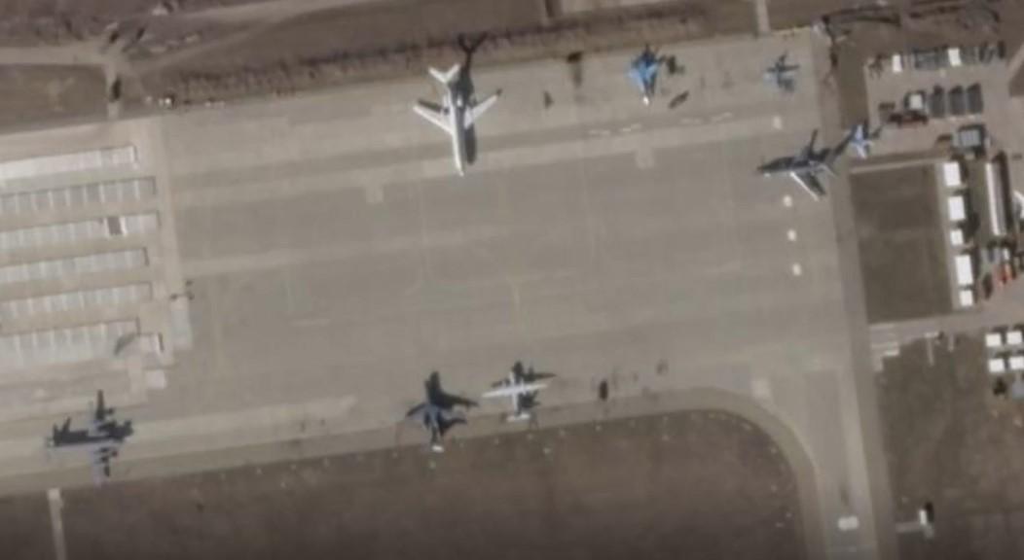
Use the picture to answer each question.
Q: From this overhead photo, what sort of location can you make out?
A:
airport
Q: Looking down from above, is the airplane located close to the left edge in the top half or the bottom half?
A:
bottom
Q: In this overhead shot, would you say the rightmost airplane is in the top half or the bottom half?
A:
top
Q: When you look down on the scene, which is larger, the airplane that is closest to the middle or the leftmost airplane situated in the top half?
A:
the leftmost airplane situated in the top half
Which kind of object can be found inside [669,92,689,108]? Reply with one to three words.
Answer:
vehicle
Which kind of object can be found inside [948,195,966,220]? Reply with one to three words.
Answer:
shed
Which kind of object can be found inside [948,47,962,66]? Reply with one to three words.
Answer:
vehicle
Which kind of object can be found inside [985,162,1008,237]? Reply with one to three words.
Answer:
building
